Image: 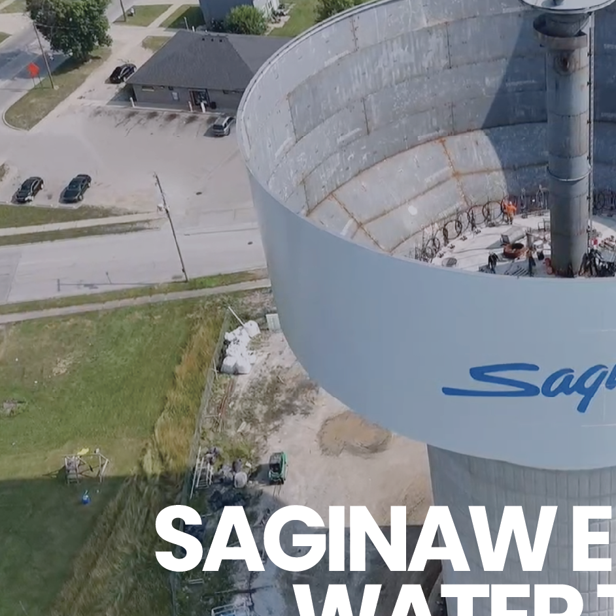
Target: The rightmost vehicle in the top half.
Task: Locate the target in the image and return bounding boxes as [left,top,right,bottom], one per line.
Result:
[208,115,237,136]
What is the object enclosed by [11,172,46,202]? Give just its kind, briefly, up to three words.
car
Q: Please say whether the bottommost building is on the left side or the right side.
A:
left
